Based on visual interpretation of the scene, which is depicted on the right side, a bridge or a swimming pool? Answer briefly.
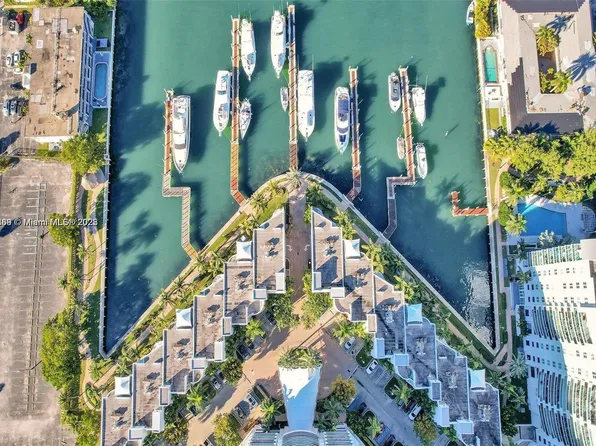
swimming pool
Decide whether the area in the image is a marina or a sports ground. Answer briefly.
marina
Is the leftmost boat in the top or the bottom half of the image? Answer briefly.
top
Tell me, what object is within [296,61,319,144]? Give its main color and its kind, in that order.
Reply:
white boat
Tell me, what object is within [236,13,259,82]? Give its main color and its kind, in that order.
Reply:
white boat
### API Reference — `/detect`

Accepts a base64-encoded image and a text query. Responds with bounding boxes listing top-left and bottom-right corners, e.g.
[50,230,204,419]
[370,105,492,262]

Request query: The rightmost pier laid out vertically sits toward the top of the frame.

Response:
[377,63,417,243]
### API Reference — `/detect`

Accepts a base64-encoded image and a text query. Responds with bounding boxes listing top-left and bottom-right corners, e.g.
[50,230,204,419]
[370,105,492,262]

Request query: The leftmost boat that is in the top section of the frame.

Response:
[171,94,194,176]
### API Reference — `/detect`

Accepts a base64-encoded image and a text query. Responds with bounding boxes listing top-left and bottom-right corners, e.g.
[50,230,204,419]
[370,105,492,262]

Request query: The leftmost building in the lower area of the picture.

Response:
[98,209,286,446]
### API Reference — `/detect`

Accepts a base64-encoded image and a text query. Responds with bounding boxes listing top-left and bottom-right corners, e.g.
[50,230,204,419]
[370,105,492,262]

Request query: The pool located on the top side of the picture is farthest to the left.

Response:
[94,62,109,101]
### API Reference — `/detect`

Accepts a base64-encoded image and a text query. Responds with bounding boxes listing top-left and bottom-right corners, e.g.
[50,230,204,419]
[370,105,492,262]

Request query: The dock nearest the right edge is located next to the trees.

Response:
[450,191,490,218]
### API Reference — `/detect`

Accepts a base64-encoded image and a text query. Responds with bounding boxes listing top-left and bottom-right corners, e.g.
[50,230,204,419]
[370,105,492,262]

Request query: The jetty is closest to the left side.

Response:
[159,87,199,262]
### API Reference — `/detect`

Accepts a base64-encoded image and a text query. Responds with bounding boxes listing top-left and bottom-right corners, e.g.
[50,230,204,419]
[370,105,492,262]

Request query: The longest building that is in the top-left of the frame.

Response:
[24,7,97,144]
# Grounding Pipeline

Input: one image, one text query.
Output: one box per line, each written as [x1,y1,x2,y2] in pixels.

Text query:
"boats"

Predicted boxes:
[171,94,194,176]
[409,79,430,128]
[397,136,405,158]
[237,98,256,139]
[296,61,319,144]
[414,143,430,179]
[384,73,402,113]
[330,86,351,155]
[281,86,288,110]
[236,13,259,82]
[268,6,288,79]
[211,69,232,136]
